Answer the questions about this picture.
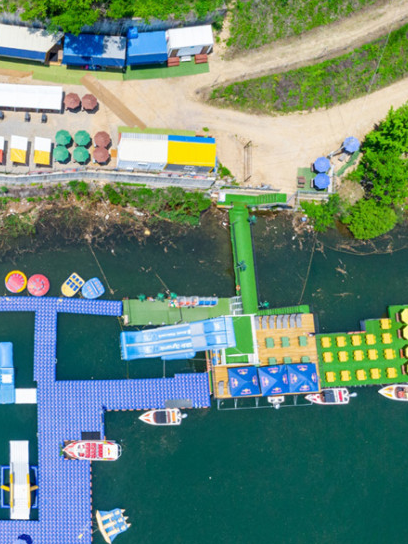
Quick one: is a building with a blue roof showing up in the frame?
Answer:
Yes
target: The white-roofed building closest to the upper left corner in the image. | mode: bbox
[0,24,64,67]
